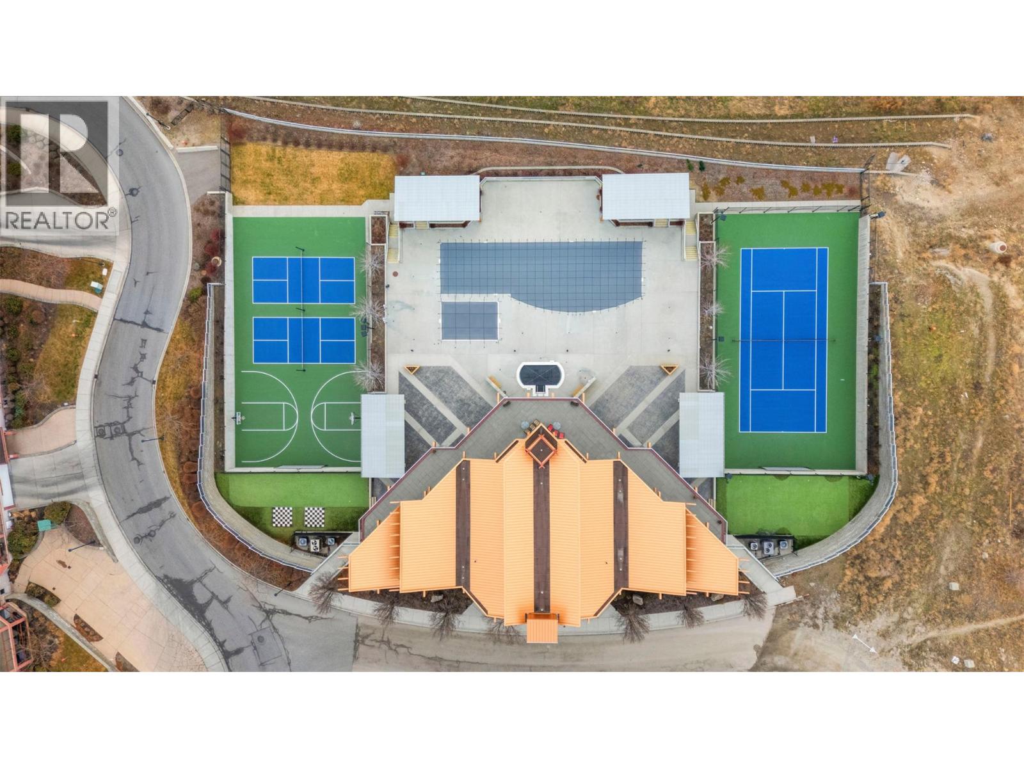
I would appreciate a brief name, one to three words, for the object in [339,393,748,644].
building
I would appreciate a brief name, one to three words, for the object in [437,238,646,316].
swimming pool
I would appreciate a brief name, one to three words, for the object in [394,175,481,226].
shed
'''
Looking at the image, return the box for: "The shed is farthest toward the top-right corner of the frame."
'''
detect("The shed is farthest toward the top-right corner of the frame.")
[599,173,690,226]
